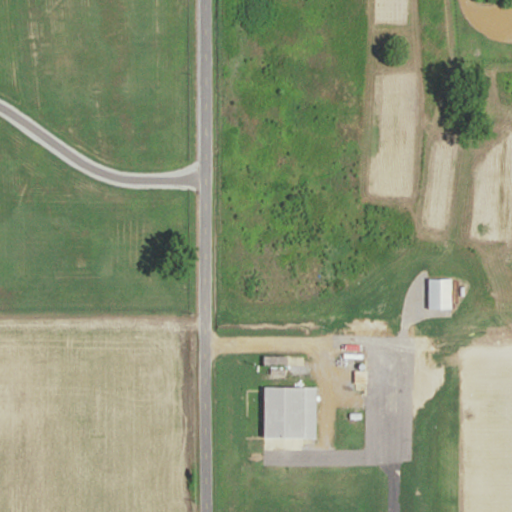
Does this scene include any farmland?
Yes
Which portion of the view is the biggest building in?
bottom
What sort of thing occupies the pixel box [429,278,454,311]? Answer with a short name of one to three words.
house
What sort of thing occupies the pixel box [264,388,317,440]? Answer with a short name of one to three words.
building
